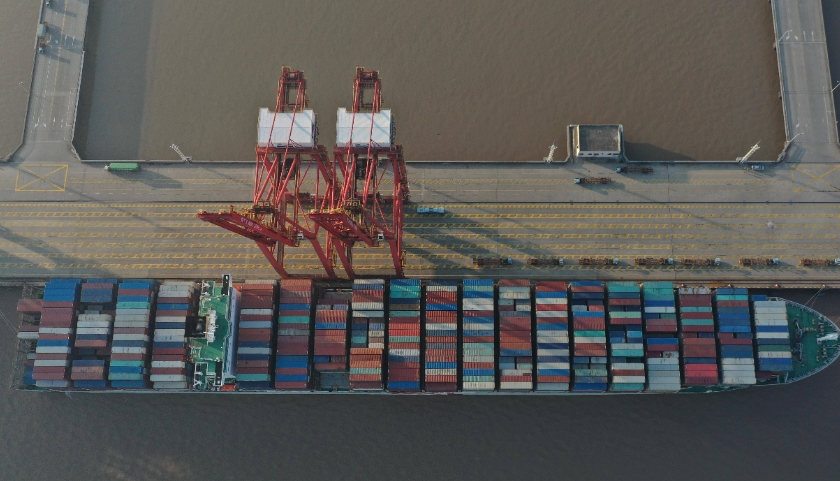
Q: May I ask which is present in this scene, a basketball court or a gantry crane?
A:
gantry crane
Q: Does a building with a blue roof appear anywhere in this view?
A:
No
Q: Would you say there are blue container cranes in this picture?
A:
No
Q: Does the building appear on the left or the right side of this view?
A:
right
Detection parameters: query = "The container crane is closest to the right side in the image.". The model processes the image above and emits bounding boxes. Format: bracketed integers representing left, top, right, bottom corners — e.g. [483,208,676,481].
[305,69,410,278]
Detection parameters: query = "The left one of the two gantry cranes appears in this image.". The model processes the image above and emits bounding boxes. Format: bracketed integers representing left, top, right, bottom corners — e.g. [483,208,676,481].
[196,68,340,278]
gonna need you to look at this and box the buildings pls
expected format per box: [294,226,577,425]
[561,122,631,161]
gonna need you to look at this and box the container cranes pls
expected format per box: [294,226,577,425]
[196,68,340,278]
[305,69,410,278]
